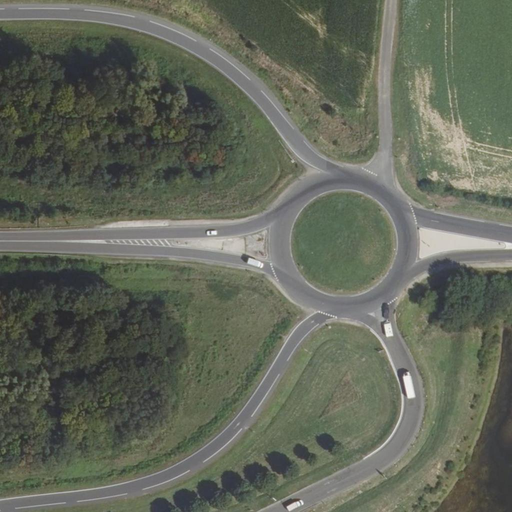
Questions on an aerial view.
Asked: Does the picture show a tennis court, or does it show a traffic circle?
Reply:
traffic circle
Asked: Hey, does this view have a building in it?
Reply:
No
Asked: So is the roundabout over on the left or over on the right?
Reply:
right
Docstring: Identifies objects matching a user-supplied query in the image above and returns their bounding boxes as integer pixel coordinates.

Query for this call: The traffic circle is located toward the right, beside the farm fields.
[268,168,418,318]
